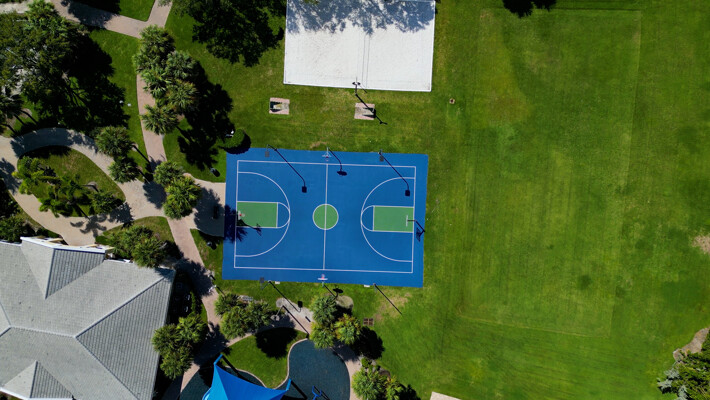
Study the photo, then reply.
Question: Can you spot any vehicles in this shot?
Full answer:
No, the scene contains no vehicle.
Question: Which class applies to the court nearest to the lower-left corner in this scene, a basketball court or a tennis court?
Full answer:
I'd identify the court nearest to the lower-left corner as a basketball court.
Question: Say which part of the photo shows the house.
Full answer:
The house appears toward the bottom left of the photo.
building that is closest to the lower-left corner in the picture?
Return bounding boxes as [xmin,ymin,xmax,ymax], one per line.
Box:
[0,232,176,400]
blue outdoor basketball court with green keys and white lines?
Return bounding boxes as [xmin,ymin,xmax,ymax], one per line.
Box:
[222,148,428,288]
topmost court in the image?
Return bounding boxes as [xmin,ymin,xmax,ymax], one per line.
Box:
[284,0,435,92]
